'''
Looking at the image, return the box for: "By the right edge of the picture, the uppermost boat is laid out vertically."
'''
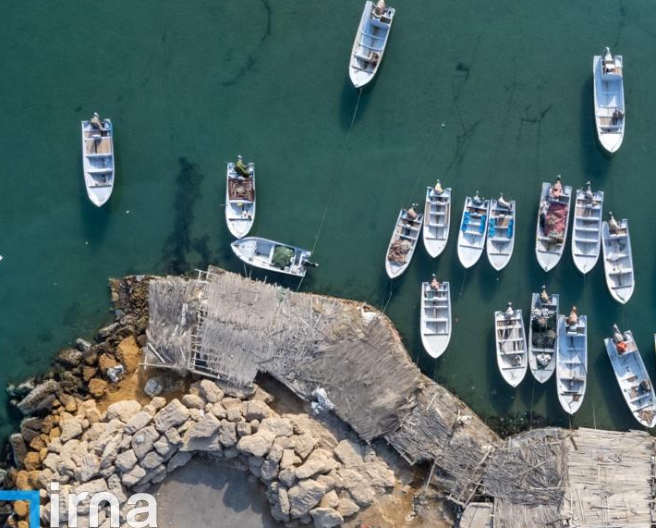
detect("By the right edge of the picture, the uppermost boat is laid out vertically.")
[594,46,625,155]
